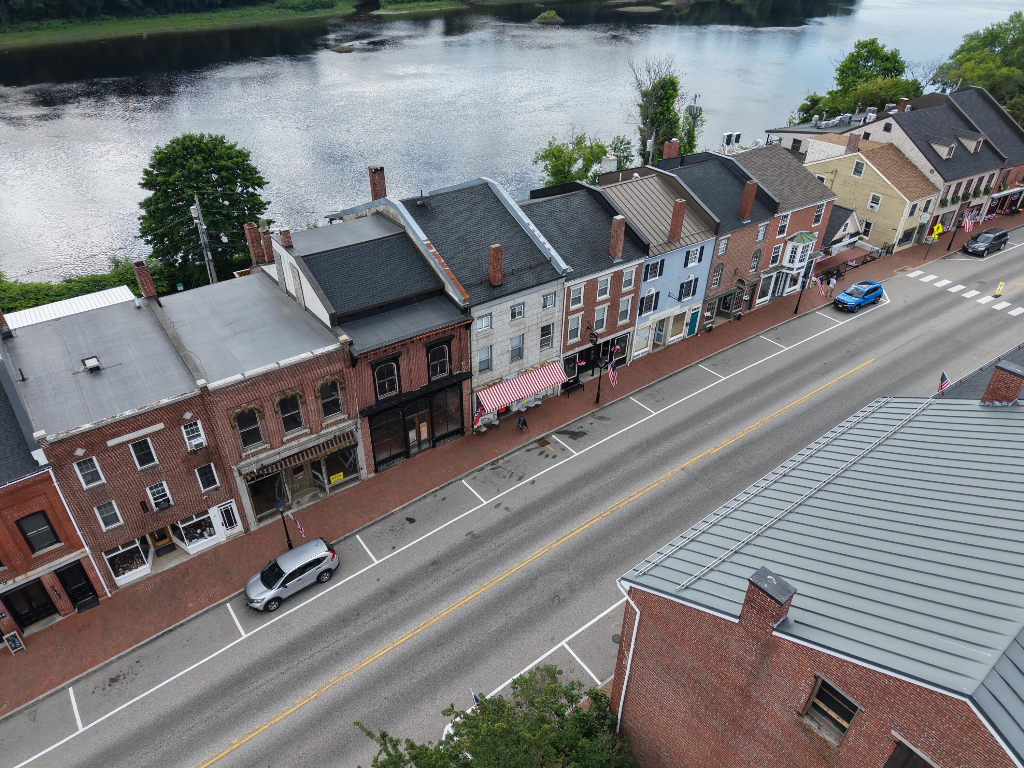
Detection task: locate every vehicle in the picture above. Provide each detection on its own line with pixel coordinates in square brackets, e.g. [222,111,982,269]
[963,226,1013,257]
[239,536,340,616]
[834,278,888,313]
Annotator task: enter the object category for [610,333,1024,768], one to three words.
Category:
warehouse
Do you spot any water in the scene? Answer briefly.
Yes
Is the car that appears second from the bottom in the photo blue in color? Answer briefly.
Yes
